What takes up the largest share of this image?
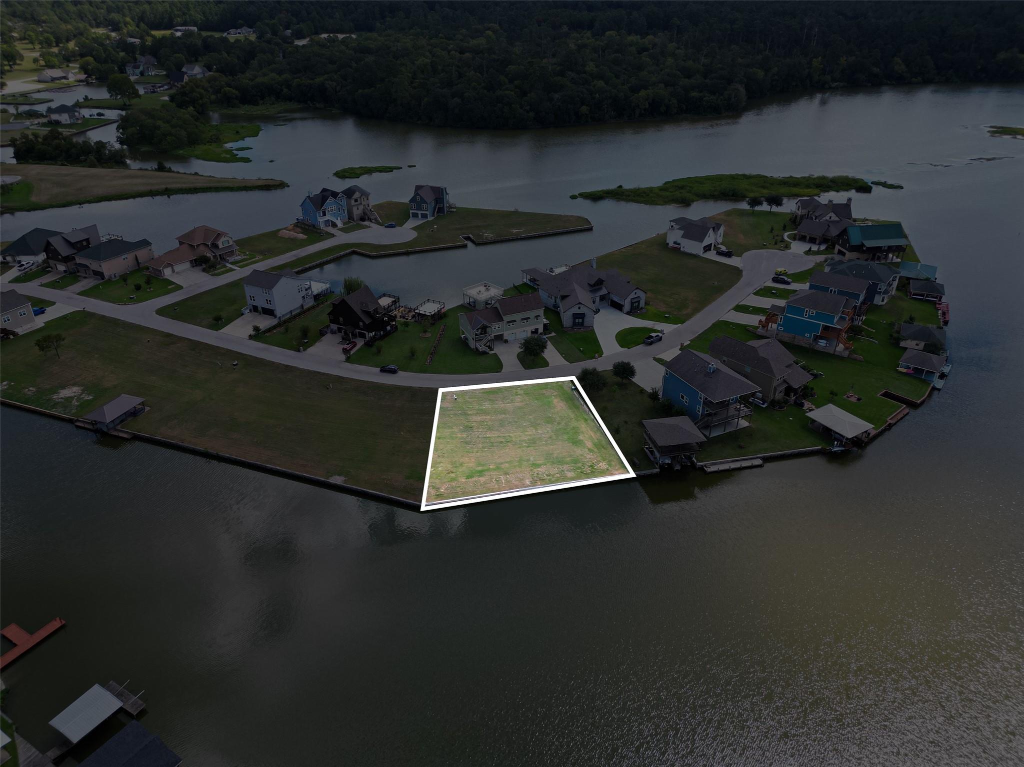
water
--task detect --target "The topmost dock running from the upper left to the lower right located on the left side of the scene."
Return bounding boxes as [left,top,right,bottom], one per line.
[106,679,148,719]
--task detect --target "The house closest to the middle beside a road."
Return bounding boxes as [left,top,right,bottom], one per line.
[457,289,549,358]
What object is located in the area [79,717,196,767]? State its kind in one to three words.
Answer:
building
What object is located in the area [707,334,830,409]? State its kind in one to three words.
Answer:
house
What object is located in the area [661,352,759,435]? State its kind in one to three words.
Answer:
house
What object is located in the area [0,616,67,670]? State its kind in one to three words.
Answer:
pier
